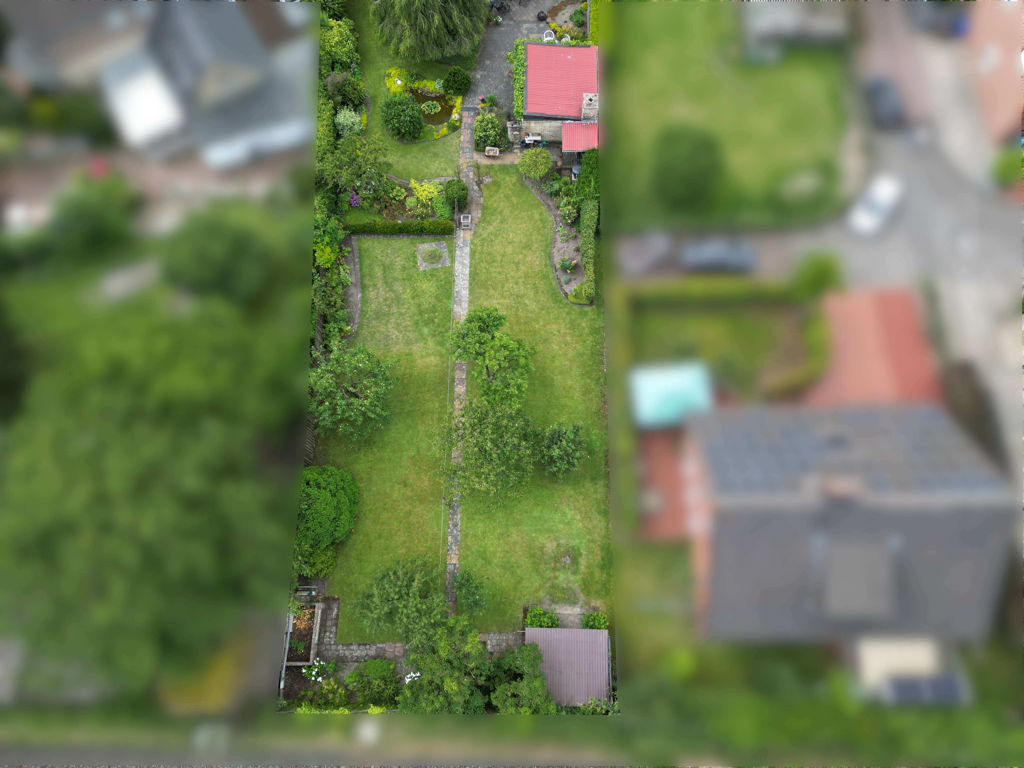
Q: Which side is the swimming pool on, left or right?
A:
right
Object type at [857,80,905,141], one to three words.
car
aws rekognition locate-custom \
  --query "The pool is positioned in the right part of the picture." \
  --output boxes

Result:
[631,359,719,432]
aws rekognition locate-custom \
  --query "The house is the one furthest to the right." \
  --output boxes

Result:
[936,0,1024,179]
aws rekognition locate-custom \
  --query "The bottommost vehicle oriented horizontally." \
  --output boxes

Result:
[681,241,751,275]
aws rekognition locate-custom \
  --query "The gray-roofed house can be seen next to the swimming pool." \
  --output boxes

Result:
[681,412,1024,643]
